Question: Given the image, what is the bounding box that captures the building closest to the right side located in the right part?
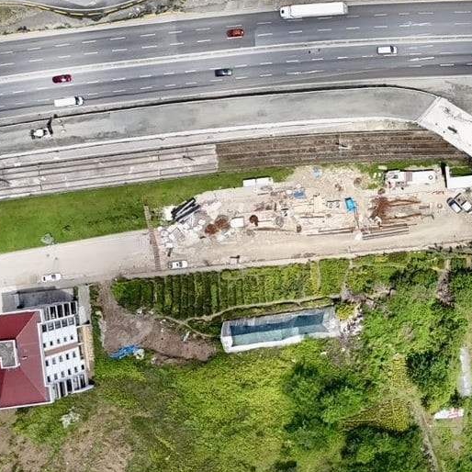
[446,167,472,189]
